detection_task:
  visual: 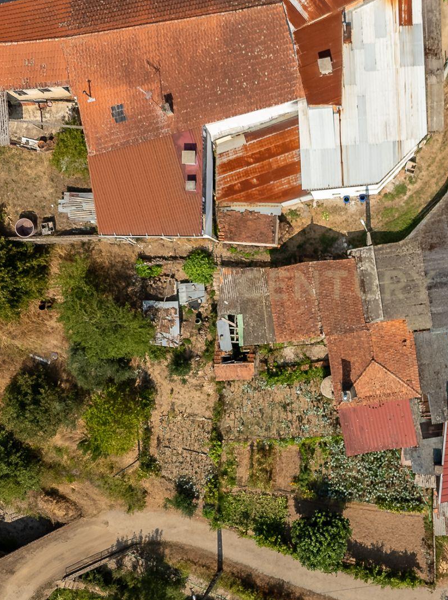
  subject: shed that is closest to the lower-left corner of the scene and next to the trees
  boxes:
[143,301,185,347]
